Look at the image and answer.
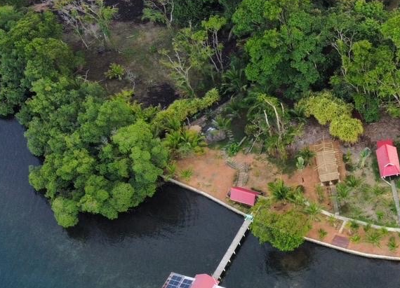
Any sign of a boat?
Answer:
No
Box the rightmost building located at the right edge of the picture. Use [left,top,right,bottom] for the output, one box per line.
[377,142,400,187]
